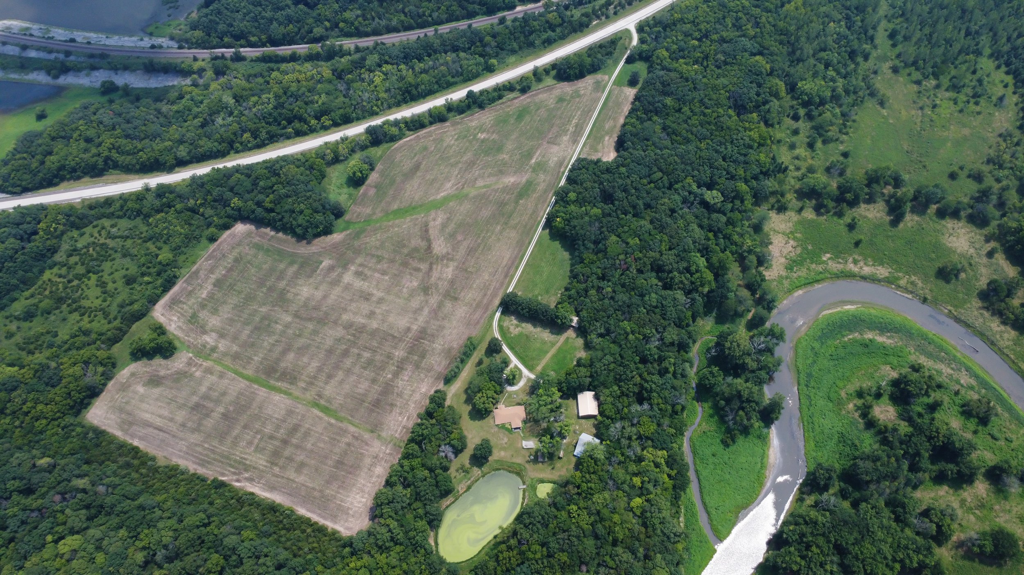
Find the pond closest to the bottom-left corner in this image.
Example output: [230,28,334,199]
[436,469,524,562]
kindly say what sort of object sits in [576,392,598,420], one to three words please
barn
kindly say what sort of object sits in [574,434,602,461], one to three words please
shed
